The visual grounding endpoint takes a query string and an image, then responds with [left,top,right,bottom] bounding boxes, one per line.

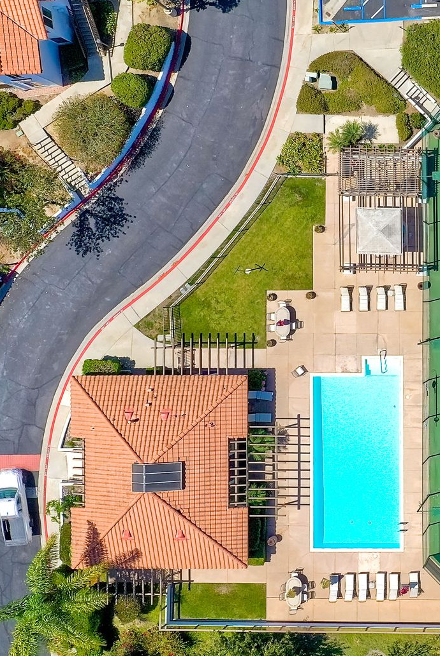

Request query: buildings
[68,373,249,571]
[0,0,68,88]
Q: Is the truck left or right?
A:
left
